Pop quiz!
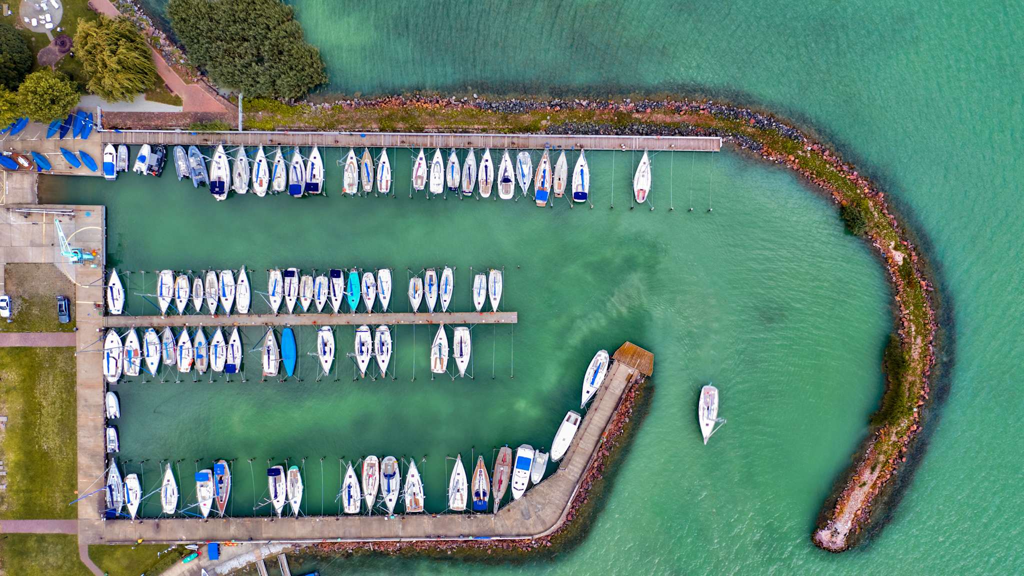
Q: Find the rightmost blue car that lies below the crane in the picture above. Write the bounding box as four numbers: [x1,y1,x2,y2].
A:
[56,294,71,323]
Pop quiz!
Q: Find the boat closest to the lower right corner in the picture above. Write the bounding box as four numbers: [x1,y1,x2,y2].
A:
[696,385,724,446]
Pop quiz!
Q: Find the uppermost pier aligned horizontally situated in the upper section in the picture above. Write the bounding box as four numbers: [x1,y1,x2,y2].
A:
[99,130,722,152]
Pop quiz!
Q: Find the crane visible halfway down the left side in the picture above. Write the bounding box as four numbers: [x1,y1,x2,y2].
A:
[54,218,98,263]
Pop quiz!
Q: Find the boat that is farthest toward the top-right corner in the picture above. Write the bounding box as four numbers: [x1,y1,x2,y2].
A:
[633,149,657,204]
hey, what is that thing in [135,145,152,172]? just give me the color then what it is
white boat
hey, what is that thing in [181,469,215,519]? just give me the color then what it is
white boat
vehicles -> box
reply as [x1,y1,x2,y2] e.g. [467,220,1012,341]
[0,295,12,318]
[56,294,71,323]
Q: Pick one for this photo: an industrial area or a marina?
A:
marina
